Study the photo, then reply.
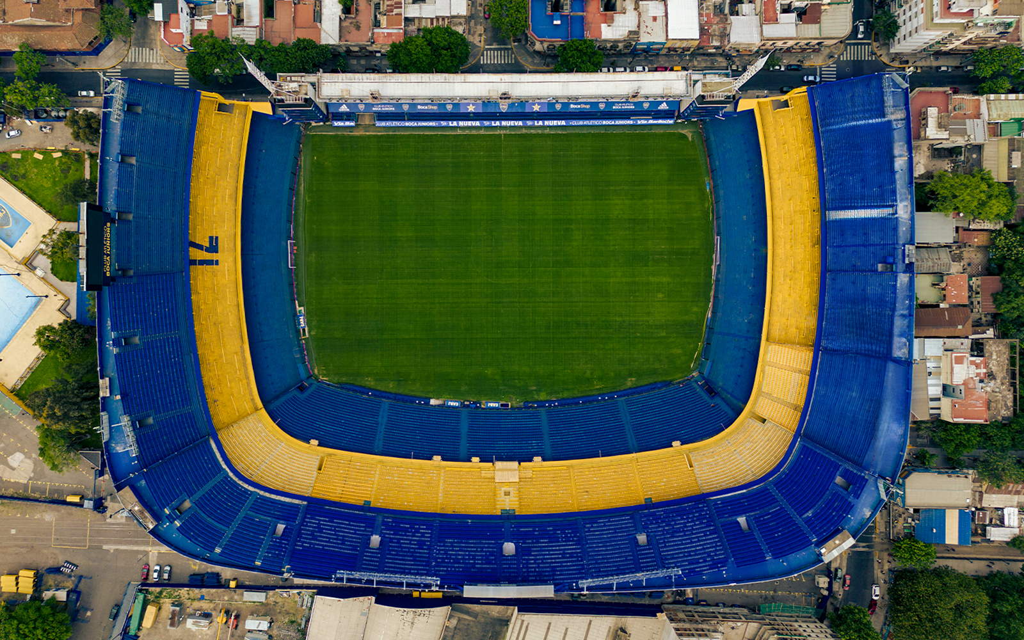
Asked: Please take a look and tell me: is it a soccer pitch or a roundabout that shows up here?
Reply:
soccer pitch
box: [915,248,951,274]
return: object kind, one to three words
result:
house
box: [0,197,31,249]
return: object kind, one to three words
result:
swimming pool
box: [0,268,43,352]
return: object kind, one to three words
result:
swimming pool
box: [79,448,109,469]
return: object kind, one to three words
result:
shed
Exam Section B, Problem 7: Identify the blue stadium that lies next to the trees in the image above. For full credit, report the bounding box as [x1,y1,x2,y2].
[93,69,918,598]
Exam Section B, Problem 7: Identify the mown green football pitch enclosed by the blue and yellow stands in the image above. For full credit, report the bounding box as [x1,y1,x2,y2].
[293,119,716,410]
